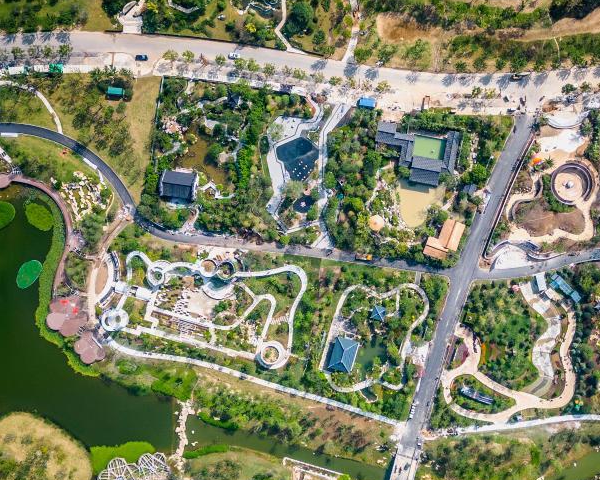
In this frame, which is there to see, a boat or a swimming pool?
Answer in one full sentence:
Of the two, only a swimming pool appears.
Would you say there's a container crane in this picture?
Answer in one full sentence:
No, I can't see a single container crane in this photo.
